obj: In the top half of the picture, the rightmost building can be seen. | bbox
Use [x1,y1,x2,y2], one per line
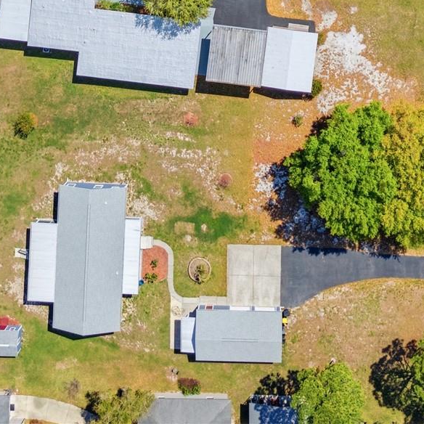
[261,26,317,93]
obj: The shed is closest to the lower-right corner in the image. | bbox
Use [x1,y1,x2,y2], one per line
[249,395,298,424]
